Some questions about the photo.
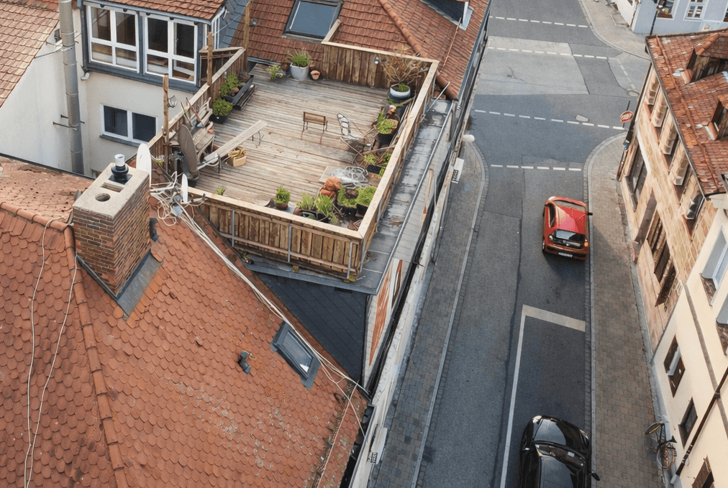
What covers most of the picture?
buildings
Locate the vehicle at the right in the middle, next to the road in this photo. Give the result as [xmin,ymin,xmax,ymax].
[538,191,592,254]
